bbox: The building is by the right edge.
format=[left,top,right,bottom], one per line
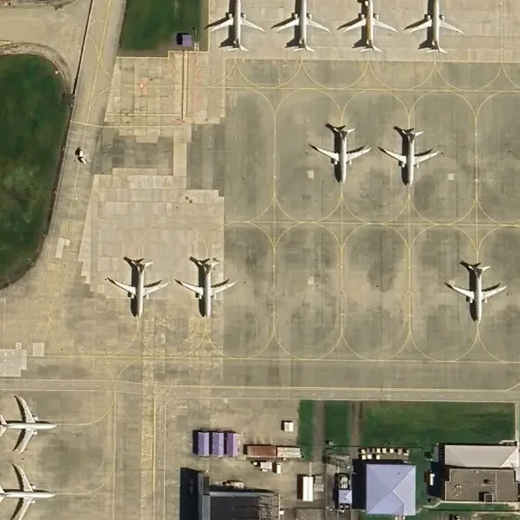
[445,445,520,502]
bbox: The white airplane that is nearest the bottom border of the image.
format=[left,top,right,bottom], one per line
[0,467,54,520]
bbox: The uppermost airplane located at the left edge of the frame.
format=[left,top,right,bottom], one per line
[0,397,56,454]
